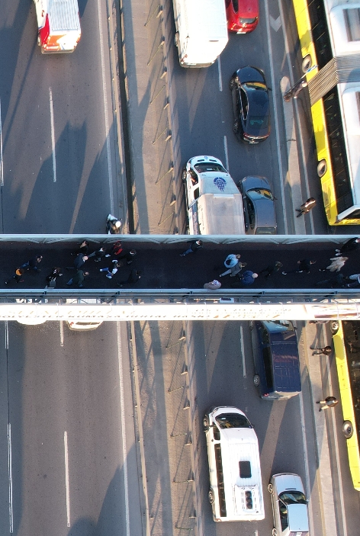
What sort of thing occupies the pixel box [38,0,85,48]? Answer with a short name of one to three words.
van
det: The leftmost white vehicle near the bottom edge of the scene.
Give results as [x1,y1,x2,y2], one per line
[207,411,272,518]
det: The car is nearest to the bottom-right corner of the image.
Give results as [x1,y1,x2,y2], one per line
[269,475,314,536]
